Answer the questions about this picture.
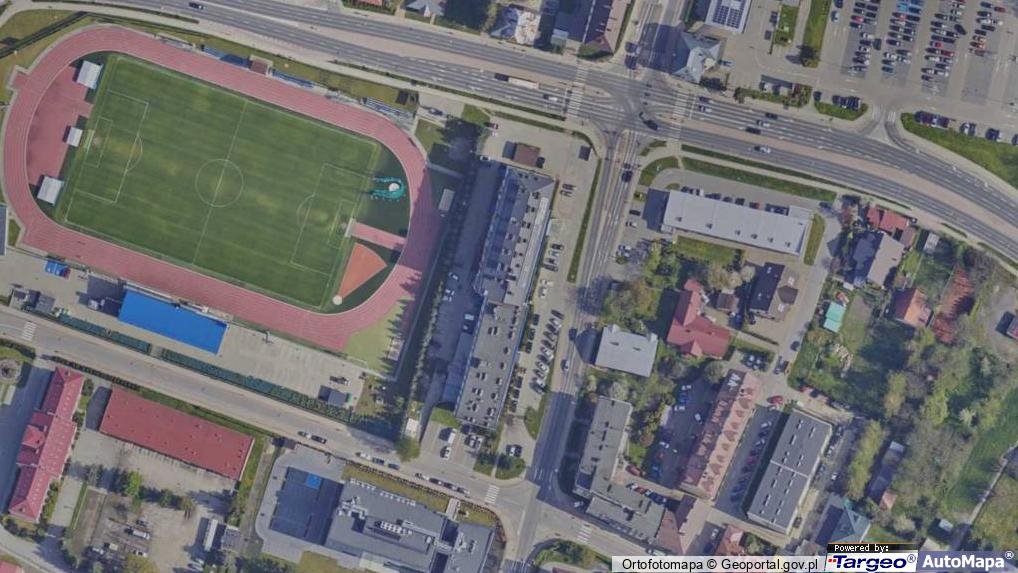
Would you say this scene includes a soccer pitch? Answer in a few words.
Yes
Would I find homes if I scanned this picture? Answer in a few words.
Yes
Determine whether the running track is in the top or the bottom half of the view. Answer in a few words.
top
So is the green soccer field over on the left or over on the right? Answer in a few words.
left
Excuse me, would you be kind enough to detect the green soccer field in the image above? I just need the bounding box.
[57,52,380,312]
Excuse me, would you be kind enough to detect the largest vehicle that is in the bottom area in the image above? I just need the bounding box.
[204,518,218,550]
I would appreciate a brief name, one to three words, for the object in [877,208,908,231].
shed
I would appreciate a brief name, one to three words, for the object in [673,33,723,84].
building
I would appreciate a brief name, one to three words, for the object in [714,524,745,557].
house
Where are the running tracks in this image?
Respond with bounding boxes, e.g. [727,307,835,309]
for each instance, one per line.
[0,25,439,352]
